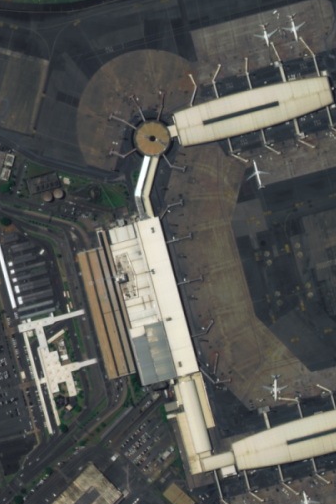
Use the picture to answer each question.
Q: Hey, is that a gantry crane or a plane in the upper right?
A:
plane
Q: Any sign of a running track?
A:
No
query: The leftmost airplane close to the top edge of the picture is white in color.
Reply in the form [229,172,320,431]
[254,22,276,46]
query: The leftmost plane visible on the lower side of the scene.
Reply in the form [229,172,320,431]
[264,375,288,401]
